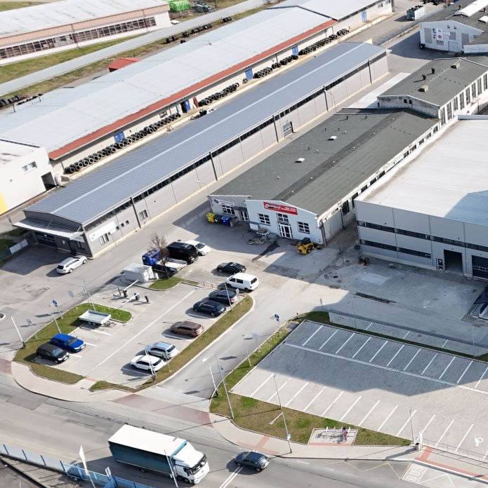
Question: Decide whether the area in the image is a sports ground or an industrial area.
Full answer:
The area seen from above is an industrial area.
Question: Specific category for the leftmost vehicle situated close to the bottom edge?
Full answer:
It turns out the leftmost vehicle situated close to the bottom edge is a truck.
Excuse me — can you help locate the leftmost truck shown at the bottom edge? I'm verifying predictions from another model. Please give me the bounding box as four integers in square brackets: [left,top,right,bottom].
[109,424,214,486]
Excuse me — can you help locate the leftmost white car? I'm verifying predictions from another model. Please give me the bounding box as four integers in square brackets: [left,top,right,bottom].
[53,257,90,274]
